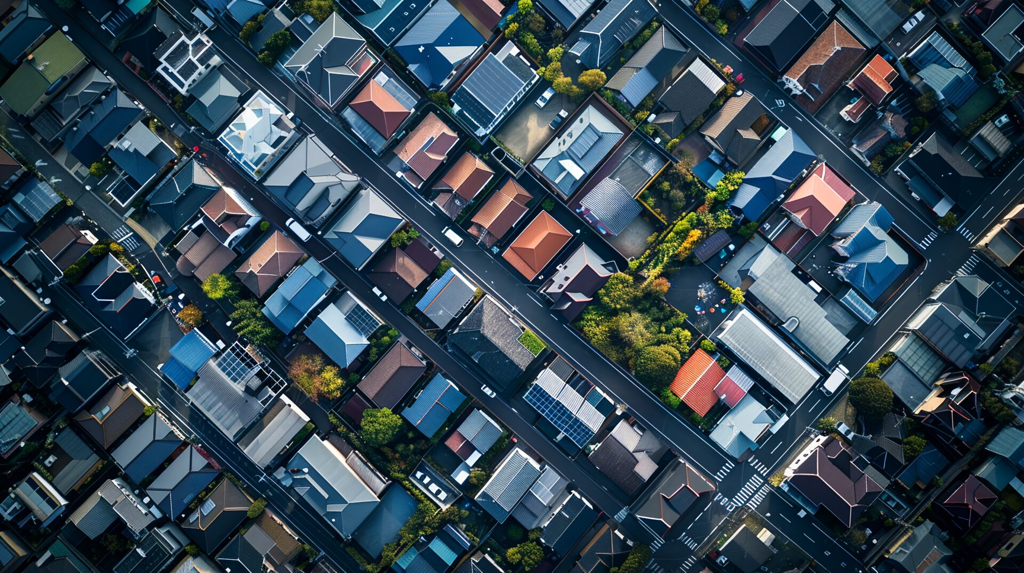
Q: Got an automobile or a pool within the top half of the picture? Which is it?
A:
automobile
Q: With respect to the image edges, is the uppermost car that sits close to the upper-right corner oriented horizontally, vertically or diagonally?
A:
diagonally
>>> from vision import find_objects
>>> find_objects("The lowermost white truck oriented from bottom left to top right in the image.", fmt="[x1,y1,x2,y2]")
[819,364,850,396]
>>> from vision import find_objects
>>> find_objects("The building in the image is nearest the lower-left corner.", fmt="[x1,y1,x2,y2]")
[0,528,33,572]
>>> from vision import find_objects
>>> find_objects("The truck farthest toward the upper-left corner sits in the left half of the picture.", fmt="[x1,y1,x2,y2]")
[187,2,217,31]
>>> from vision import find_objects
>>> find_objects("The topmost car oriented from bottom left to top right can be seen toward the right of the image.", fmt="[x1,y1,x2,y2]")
[900,10,927,35]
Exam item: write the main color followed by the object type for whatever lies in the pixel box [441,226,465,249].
white vehicle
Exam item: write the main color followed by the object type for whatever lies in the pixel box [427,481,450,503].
white car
